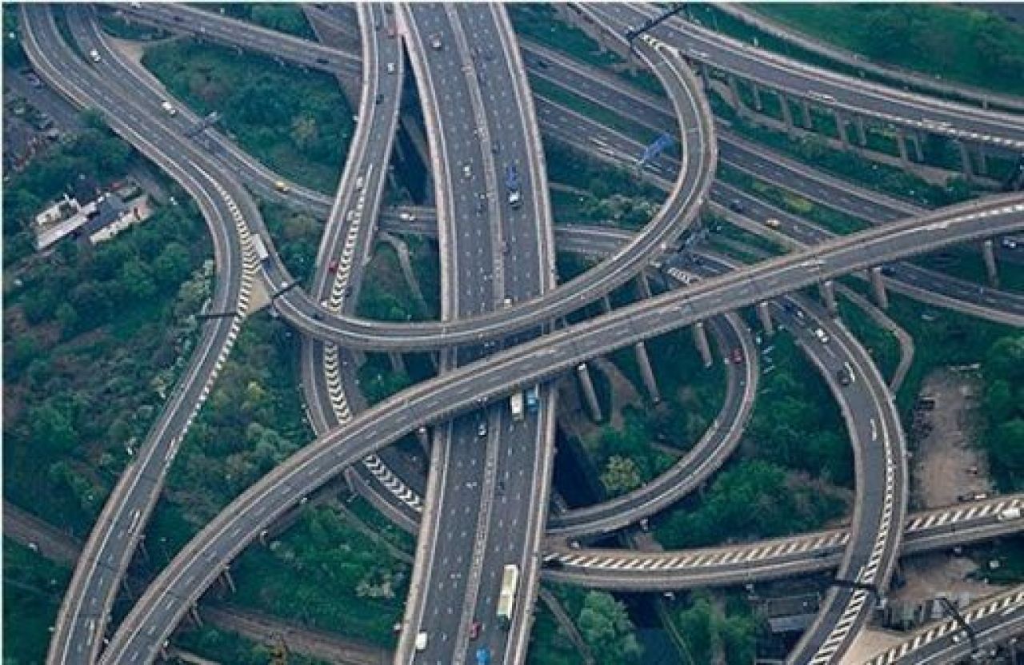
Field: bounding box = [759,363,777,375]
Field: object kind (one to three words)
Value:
vehicle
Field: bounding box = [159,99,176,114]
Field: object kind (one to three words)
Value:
vehicle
